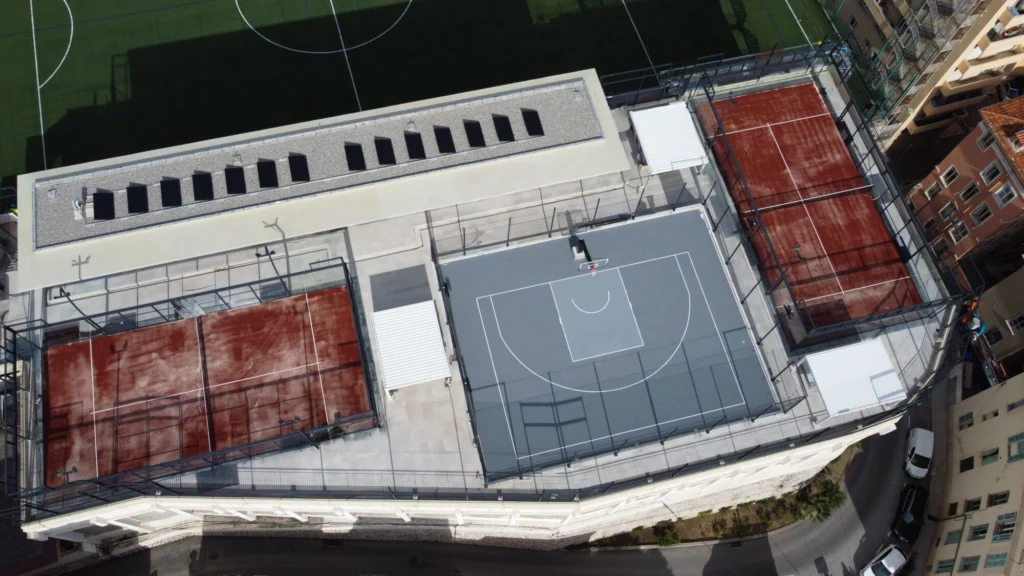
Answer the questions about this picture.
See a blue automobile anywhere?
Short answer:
No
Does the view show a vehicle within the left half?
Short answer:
No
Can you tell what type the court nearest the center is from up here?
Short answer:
basketball court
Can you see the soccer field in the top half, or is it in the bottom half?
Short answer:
top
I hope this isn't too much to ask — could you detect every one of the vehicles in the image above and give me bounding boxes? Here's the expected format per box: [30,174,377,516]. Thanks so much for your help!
[899,421,935,480]
[886,485,928,552]
[867,546,913,576]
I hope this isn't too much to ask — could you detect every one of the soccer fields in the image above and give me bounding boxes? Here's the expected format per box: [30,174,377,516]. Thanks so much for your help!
[0,0,857,209]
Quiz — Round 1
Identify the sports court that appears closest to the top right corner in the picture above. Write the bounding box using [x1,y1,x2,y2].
[690,44,965,353]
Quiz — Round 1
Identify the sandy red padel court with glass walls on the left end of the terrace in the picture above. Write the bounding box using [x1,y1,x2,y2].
[3,254,380,508]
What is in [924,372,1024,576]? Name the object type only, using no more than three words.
building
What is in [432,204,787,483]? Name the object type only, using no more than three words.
basketball court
